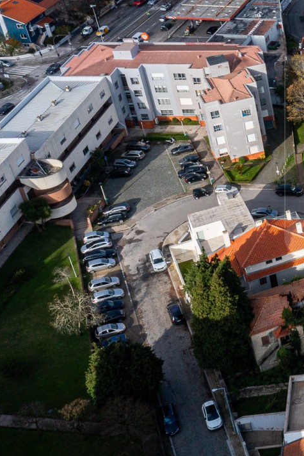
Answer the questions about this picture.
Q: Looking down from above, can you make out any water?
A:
No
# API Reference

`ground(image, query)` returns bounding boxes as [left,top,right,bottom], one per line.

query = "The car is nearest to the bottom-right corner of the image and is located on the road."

[202,398,220,428]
